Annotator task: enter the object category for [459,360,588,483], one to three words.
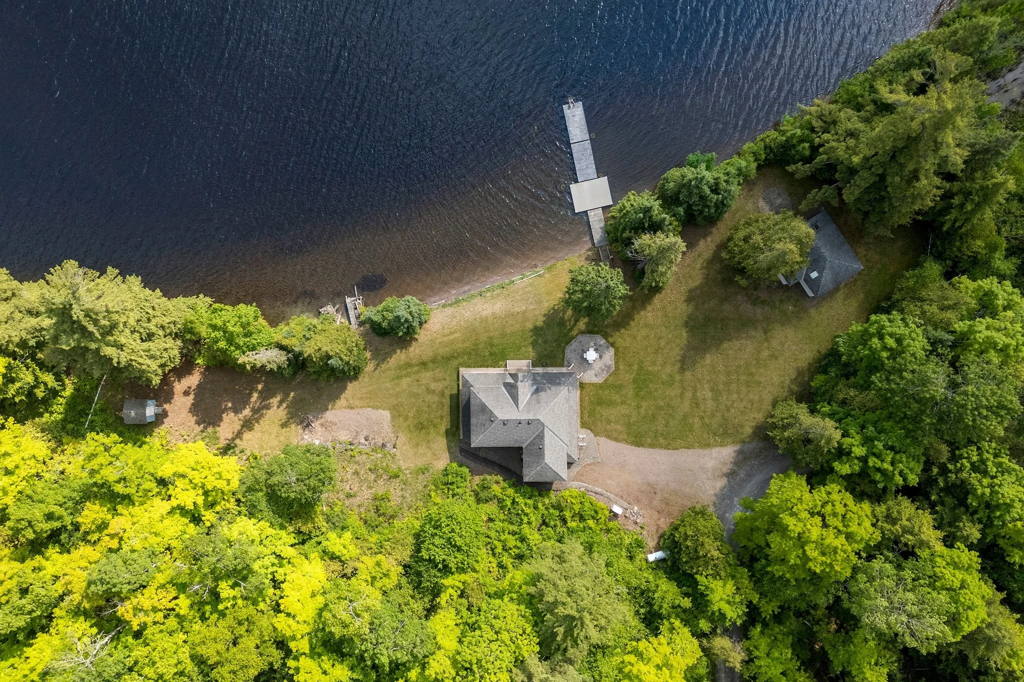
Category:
house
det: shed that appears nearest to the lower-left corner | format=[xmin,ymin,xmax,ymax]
[118,399,164,424]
